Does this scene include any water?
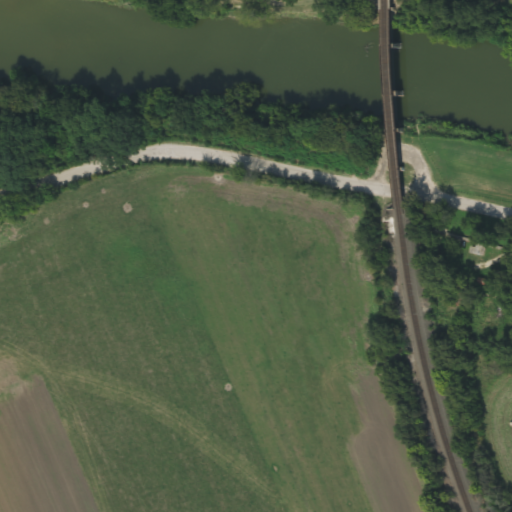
Yes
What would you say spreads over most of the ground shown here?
grass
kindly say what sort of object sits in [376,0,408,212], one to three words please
bridge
